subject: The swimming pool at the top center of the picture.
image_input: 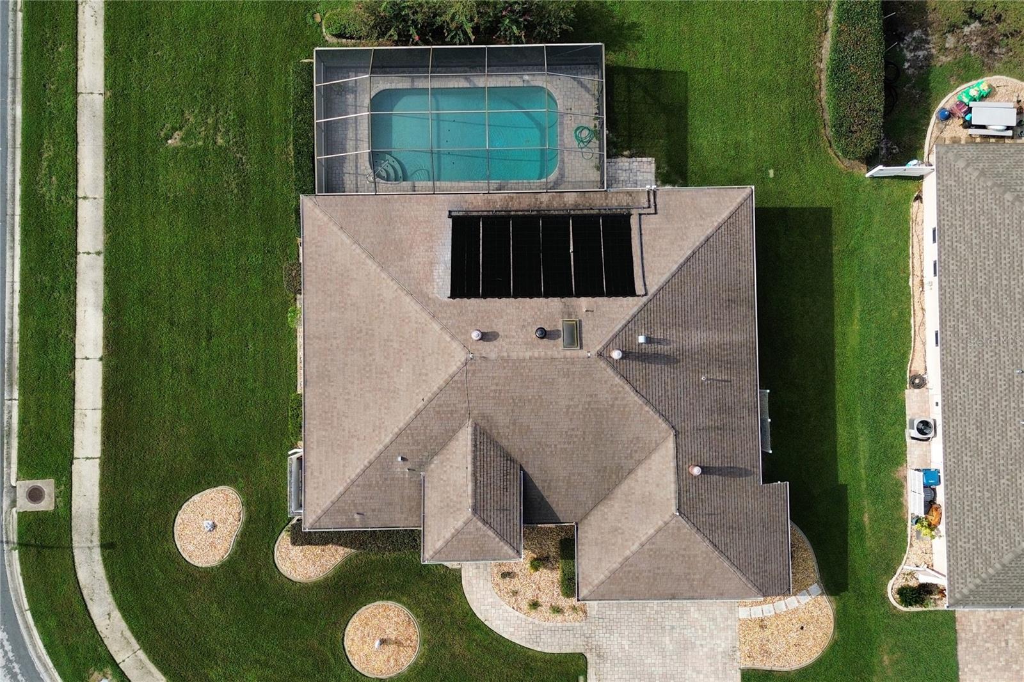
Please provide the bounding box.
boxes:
[364,80,565,188]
